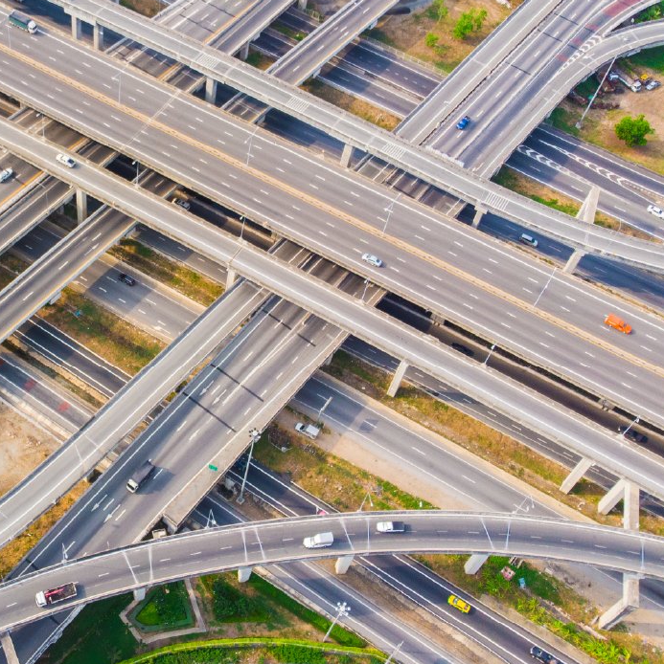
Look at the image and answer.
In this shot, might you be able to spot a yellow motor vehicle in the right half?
Yes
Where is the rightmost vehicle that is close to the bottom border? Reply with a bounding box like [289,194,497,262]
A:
[531,647,560,664]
